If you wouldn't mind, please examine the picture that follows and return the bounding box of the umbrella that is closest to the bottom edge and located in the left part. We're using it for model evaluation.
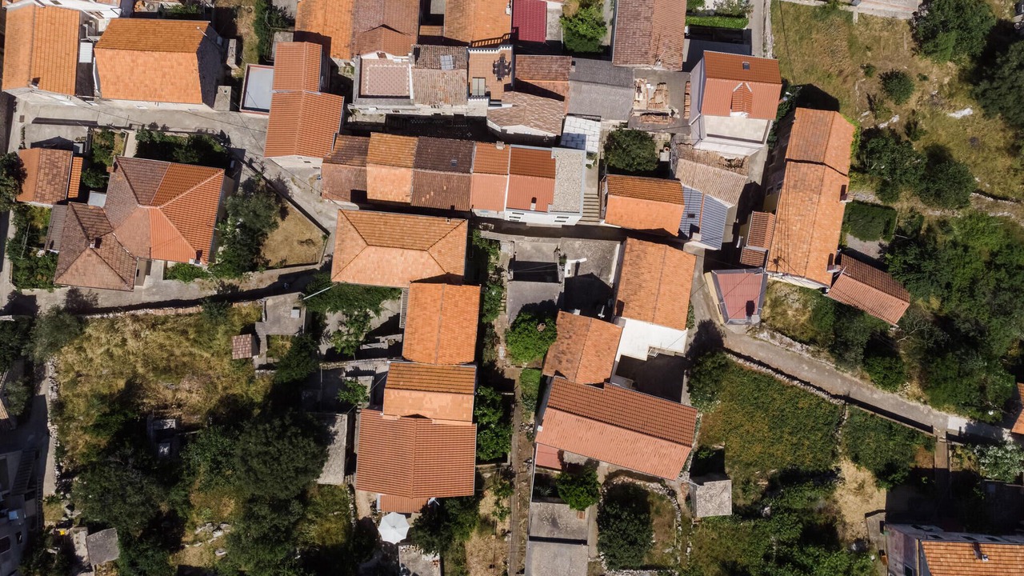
[377,514,409,544]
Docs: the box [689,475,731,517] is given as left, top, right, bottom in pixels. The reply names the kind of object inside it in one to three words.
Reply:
shed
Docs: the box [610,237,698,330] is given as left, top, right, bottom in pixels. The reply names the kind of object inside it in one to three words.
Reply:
house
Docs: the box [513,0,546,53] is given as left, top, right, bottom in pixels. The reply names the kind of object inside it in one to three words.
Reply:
shed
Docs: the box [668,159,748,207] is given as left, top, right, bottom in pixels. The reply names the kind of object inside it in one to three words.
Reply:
house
